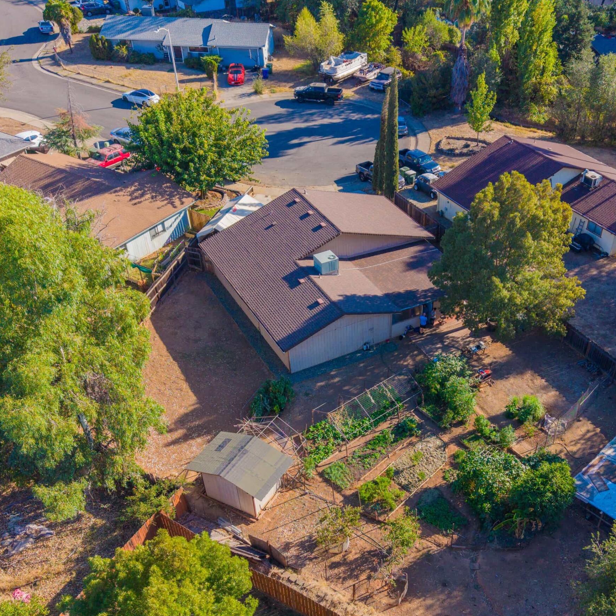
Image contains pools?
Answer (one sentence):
No, the picture doesn't show any pool.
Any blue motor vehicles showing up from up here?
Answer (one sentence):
Yes, I can see a blue motor vehicle in this picture.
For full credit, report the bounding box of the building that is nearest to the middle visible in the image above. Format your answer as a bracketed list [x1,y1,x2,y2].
[197,187,468,373]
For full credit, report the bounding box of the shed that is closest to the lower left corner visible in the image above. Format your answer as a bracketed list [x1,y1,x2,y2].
[186,432,293,523]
